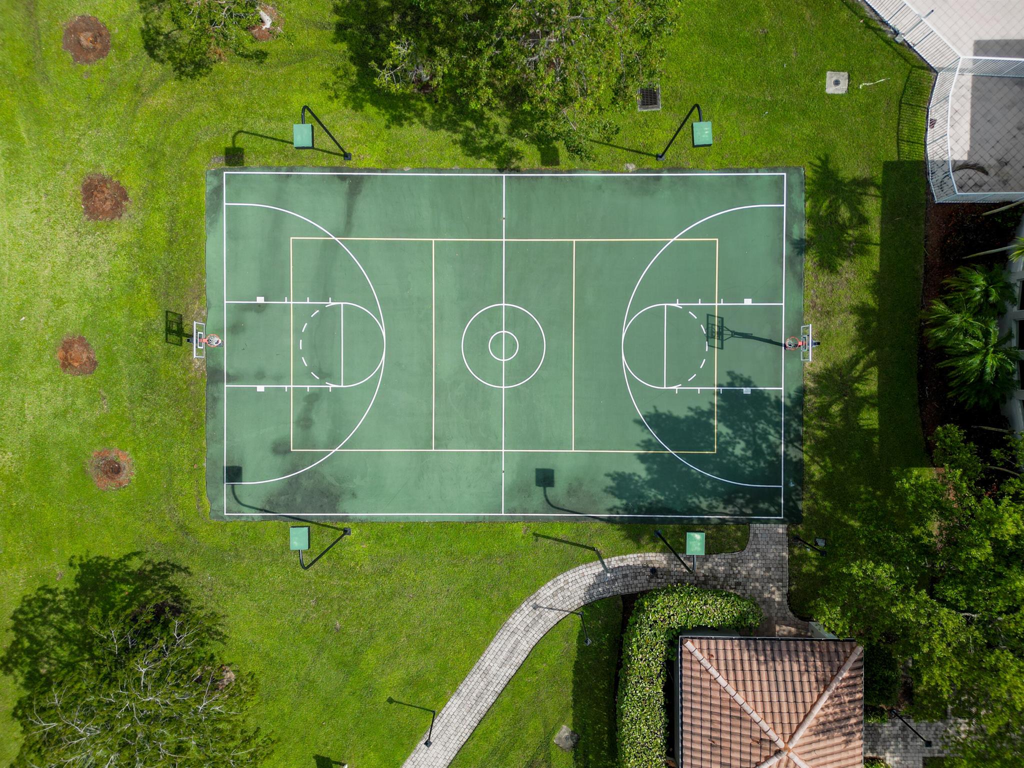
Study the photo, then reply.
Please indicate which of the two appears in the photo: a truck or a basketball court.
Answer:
basketball court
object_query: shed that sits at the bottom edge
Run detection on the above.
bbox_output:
[675,625,865,768]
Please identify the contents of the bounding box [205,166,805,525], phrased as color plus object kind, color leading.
green basketball court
